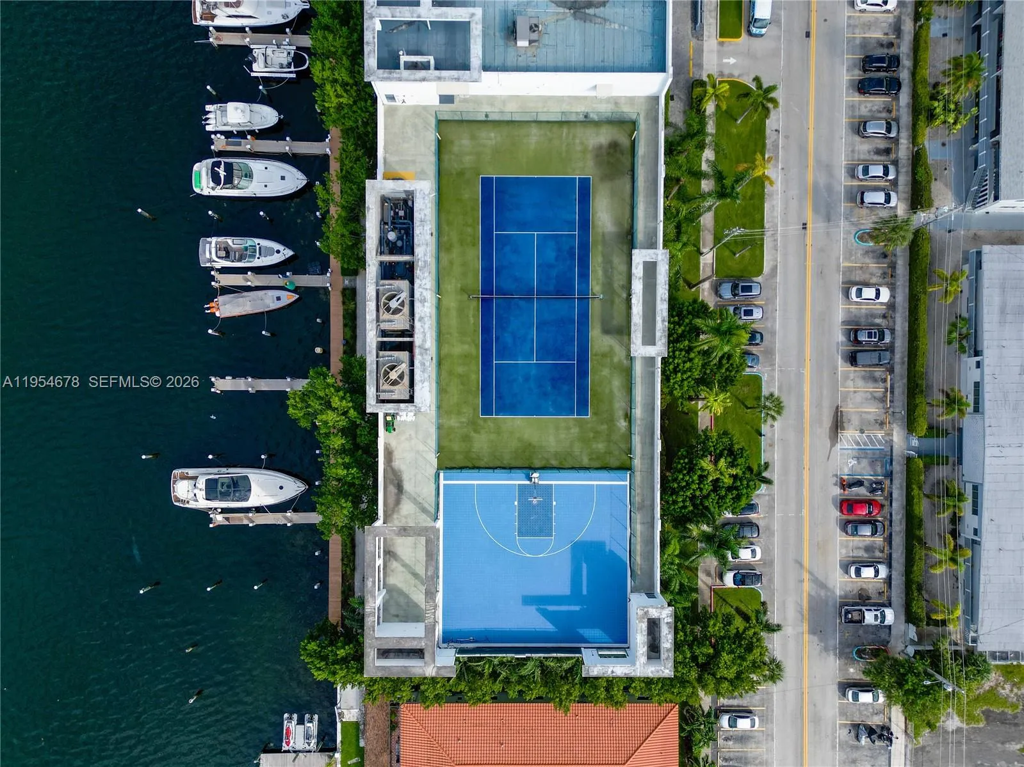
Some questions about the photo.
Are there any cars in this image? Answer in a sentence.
Yes, a car is visible in the scene.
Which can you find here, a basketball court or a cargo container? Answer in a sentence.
This aerial view contains a basketball court.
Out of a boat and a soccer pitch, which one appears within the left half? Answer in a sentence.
It is a boat that can be seen within the left half.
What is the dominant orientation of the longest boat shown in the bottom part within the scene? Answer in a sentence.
In this picture, the longest boat shown in the bottom part lies horizontally.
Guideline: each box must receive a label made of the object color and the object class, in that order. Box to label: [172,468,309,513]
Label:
white boat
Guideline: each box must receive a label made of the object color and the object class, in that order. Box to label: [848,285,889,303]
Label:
white car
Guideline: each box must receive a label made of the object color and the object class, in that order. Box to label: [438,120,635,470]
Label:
green tennis court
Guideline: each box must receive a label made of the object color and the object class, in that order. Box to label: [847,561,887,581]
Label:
white car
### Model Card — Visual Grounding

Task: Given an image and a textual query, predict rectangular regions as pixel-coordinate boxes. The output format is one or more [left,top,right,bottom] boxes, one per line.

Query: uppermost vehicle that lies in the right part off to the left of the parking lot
[748,0,773,40]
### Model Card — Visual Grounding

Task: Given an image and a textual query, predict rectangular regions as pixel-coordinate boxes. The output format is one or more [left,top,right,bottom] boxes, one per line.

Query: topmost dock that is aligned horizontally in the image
[209,26,325,55]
